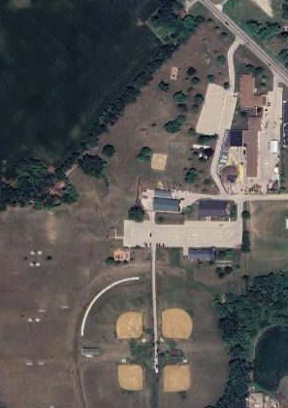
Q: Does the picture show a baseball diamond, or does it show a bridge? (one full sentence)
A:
Looking from above, you can make out a baseball diamond.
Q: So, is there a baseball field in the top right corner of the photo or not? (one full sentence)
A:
No, no baseball field is visible in the top right corner of the photo.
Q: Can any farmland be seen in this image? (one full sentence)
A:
Yes, farmland can be seen from above here.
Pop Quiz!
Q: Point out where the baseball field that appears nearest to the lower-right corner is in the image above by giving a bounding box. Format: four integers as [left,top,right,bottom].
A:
[164,365,190,393]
